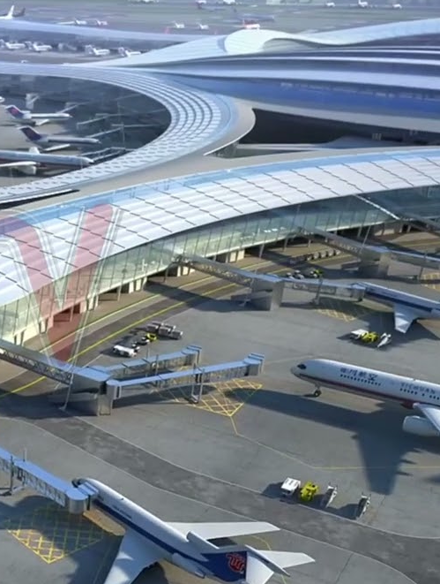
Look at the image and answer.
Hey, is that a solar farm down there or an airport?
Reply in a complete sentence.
It's an airport.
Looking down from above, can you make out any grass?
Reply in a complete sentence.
No, grass can't be seen anywhere here.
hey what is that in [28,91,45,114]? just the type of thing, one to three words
jet bridge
